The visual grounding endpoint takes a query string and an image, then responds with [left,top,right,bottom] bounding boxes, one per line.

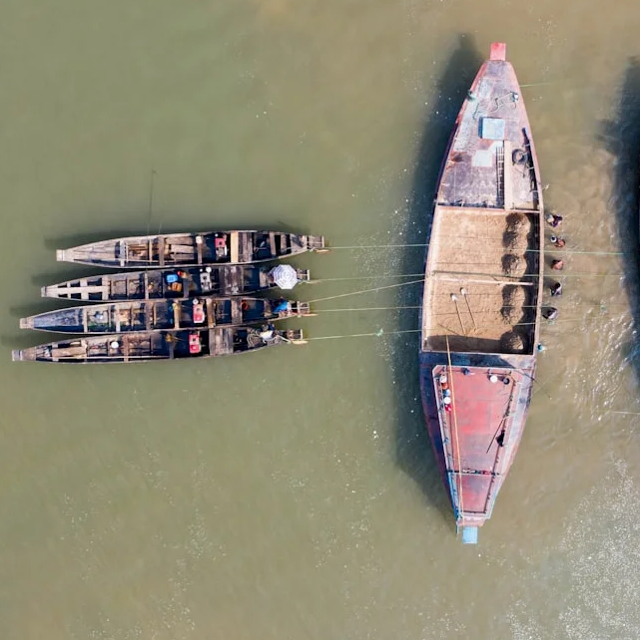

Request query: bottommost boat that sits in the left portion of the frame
[12,327,309,365]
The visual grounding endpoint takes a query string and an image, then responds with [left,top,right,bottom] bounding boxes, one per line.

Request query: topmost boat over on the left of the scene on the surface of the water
[56,230,329,268]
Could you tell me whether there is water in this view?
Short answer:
Yes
